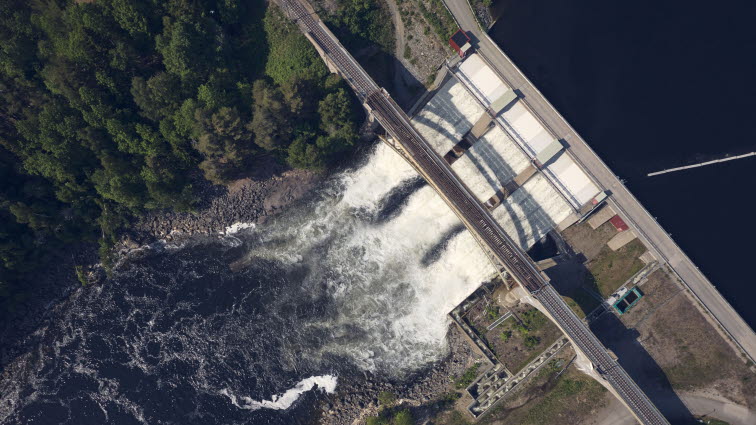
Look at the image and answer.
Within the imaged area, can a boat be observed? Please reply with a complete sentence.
No, the picture doesn't show any boat.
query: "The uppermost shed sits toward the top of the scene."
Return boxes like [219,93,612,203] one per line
[449,30,471,55]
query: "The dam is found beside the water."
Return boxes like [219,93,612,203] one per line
[405,0,756,373]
